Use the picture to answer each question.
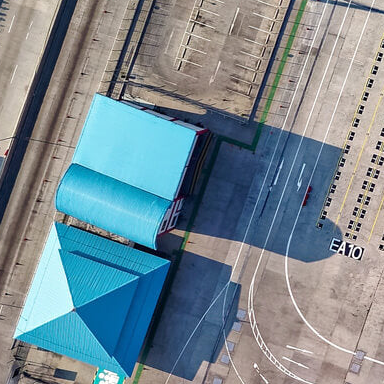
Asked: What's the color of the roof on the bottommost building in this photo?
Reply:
blue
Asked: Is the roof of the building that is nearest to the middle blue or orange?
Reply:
blue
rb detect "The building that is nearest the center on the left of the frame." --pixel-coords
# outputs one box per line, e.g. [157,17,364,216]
[54,94,222,251]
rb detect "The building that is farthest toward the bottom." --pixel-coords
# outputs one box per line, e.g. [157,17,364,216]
[14,221,171,379]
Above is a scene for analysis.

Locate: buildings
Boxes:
[14,221,171,379]
[54,94,222,251]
